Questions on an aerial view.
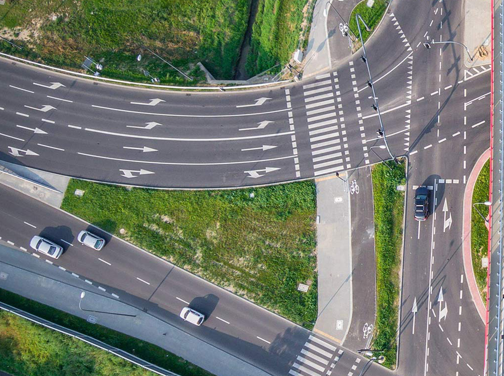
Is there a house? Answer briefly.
No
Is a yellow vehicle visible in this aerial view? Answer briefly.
No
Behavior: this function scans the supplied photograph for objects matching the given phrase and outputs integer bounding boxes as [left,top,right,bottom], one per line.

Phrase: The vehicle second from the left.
[78,232,107,250]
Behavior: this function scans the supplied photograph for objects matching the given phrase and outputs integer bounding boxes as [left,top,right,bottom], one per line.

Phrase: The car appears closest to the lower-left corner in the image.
[30,236,65,260]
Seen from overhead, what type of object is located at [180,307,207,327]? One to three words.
car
